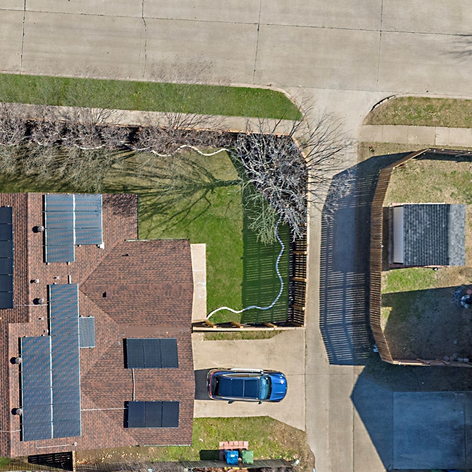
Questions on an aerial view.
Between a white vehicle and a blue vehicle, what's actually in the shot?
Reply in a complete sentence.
Looking from above, you can make out a blue vehicle.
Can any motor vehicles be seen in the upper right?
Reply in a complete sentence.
No, looking in the upper right, there is no motor vehicle.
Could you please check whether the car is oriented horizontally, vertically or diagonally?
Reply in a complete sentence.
The car runs horizontally in the image.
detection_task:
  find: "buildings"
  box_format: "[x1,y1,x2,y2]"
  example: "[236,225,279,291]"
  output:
[391,204,465,265]
[0,191,194,458]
